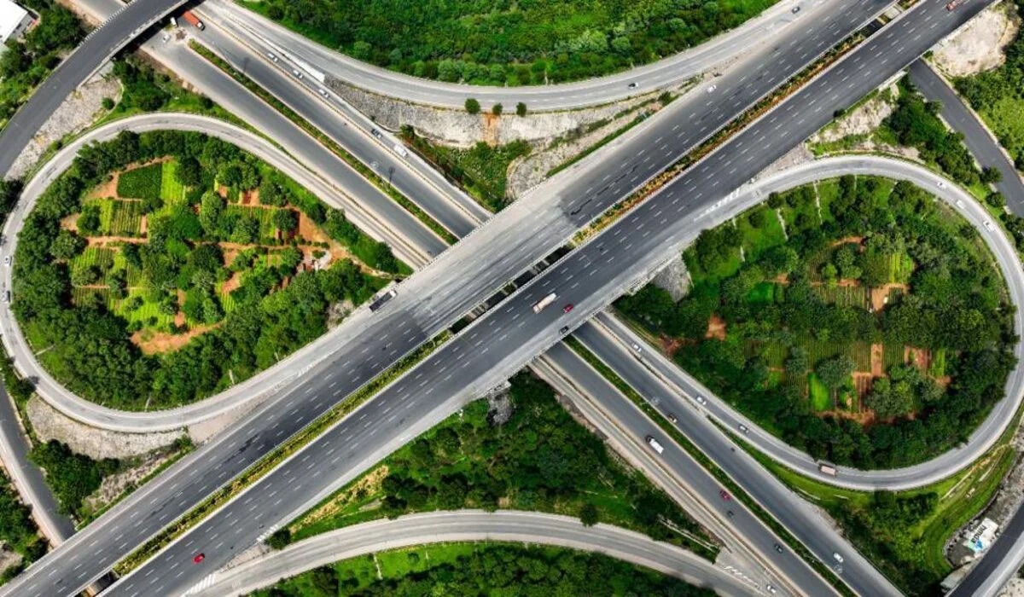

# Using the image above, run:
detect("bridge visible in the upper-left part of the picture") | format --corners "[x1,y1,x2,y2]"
[94,0,186,56]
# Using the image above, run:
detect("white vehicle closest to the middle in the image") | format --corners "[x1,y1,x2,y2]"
[535,293,557,311]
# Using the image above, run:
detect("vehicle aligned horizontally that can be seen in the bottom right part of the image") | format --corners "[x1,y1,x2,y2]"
[819,464,838,476]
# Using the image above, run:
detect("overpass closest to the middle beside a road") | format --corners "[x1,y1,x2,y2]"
[440,238,601,392]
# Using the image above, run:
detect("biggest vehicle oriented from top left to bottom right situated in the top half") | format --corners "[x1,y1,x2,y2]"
[178,6,204,28]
